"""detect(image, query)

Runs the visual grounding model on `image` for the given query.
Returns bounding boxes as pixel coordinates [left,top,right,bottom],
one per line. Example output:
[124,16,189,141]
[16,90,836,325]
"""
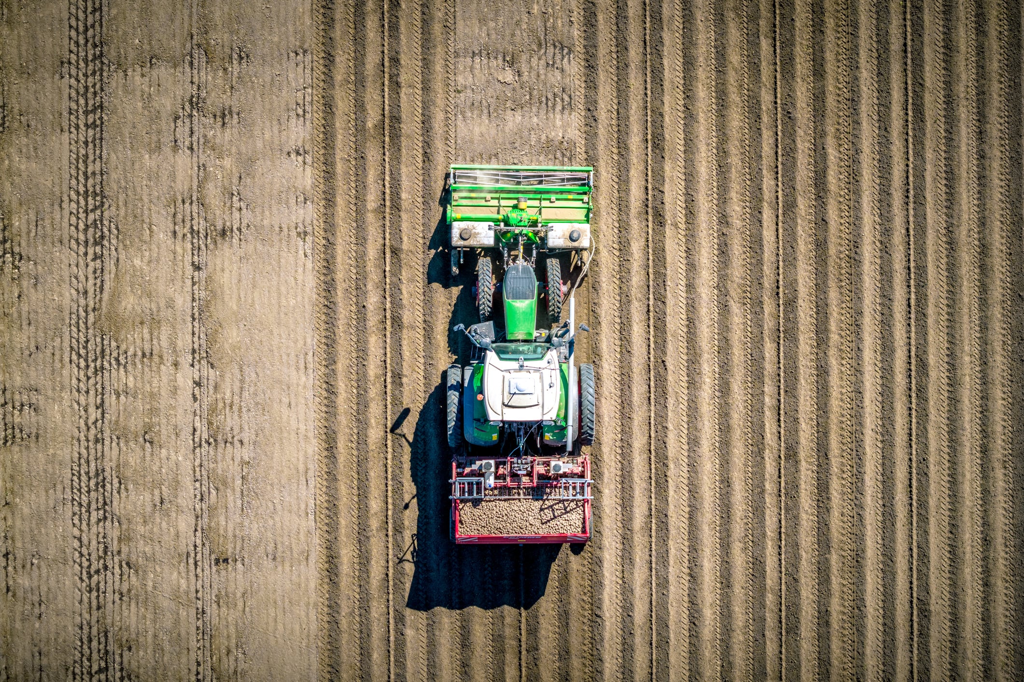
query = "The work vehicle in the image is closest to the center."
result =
[447,230,595,456]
